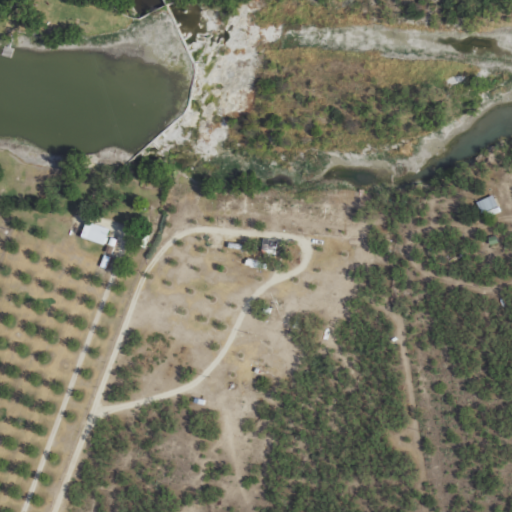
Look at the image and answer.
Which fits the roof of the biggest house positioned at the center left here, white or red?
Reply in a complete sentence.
From above, the roof of the biggest house positioned at the center left appears white.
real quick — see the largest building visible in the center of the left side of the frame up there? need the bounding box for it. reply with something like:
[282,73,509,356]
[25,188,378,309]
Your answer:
[81,224,110,245]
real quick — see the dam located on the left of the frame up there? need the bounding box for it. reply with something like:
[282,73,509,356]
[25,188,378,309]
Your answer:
[132,0,198,161]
